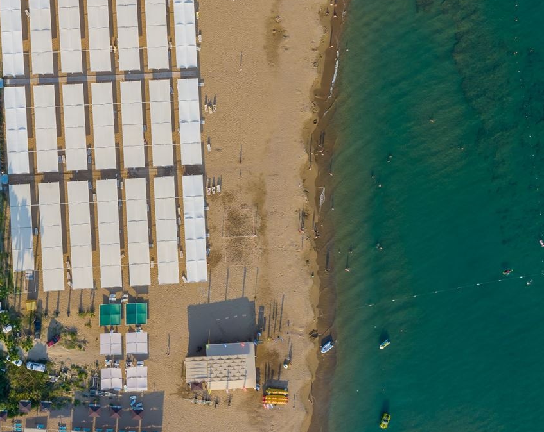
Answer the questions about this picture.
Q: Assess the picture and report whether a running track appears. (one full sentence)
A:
No, there isn't any running track down there.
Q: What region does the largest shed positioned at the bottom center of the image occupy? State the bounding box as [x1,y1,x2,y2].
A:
[184,341,256,390]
